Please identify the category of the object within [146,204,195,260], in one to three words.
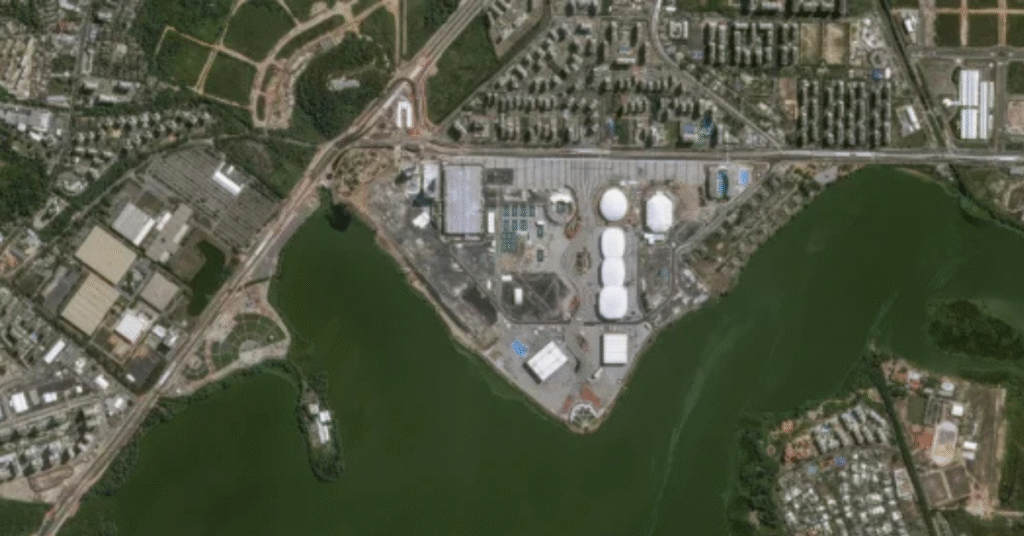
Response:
building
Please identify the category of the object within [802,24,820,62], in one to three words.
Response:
soccer field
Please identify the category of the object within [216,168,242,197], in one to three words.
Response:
building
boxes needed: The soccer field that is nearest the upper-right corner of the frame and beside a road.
[826,24,846,64]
